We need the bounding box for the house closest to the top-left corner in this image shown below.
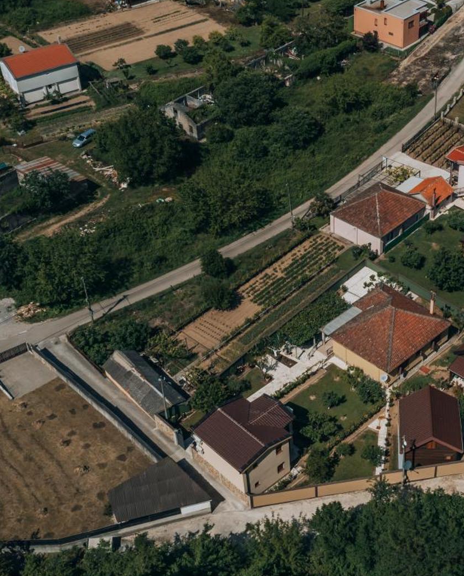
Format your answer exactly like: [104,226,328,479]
[0,39,88,109]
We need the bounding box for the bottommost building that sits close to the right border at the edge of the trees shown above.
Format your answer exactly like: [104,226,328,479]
[398,385,464,469]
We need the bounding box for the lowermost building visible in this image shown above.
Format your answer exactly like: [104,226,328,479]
[110,457,213,539]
